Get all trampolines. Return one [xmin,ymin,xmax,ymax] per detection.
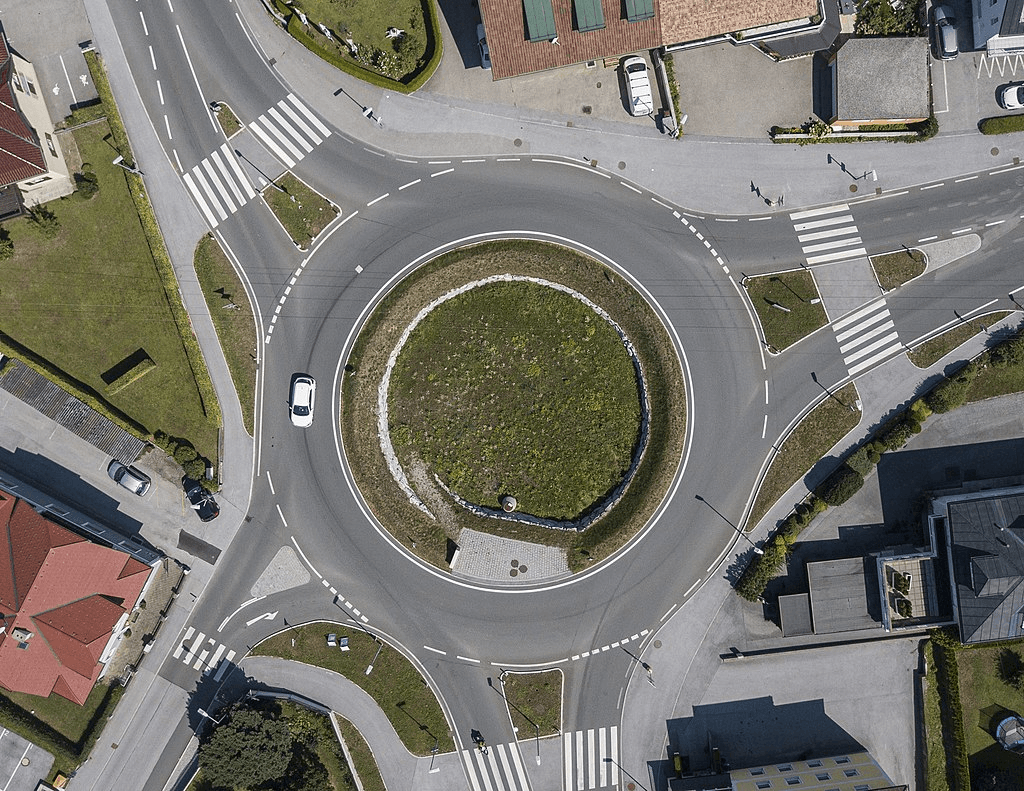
[993,714,1024,762]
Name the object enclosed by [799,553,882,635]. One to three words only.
building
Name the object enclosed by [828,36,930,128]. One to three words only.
building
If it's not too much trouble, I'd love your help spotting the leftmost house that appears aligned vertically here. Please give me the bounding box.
[0,29,74,206]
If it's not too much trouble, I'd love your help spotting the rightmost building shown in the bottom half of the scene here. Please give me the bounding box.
[868,485,1024,646]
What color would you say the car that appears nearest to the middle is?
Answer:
white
